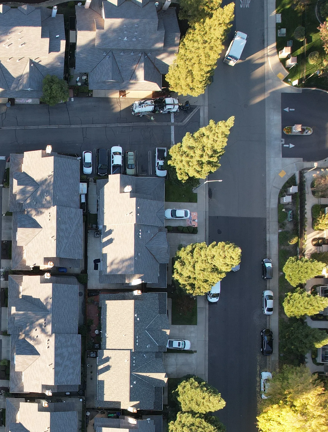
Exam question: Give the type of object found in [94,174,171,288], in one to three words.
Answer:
house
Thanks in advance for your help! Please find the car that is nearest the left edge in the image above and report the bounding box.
[82,149,94,176]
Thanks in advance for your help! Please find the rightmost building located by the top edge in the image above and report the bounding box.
[73,0,180,91]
